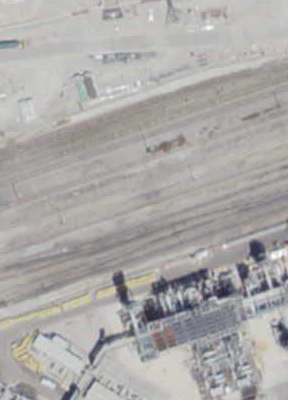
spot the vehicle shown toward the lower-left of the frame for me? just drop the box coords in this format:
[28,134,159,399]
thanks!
[40,378,56,390]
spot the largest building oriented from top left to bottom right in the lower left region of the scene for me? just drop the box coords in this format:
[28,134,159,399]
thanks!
[32,332,86,376]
